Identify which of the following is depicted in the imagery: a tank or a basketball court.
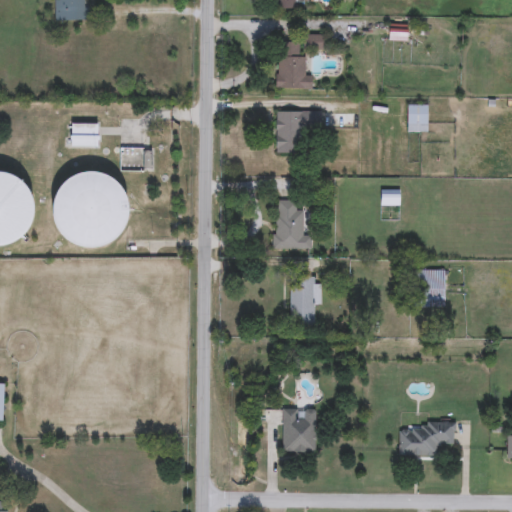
tank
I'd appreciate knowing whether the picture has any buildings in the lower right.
Yes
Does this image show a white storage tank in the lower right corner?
No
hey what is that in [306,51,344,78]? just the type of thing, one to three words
swimming pool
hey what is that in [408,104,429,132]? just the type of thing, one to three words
barn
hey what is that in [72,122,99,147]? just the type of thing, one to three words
building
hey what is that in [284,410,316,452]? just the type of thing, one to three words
house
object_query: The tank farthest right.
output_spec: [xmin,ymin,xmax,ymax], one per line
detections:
[53,171,130,247]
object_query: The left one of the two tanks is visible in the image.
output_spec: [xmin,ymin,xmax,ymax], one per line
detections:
[0,171,36,247]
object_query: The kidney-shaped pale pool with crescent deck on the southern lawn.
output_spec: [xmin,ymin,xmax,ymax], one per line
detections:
[406,382,435,400]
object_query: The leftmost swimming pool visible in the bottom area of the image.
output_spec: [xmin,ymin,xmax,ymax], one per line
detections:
[296,373,322,407]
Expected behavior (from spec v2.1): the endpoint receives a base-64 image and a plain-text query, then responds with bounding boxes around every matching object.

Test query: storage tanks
[53,171,130,247]
[0,171,36,247]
